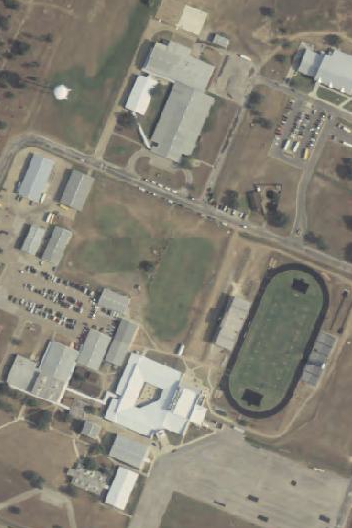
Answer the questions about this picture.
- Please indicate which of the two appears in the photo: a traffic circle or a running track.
running track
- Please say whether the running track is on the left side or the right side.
right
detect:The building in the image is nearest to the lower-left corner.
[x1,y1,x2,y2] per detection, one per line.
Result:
[68,469,108,496]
